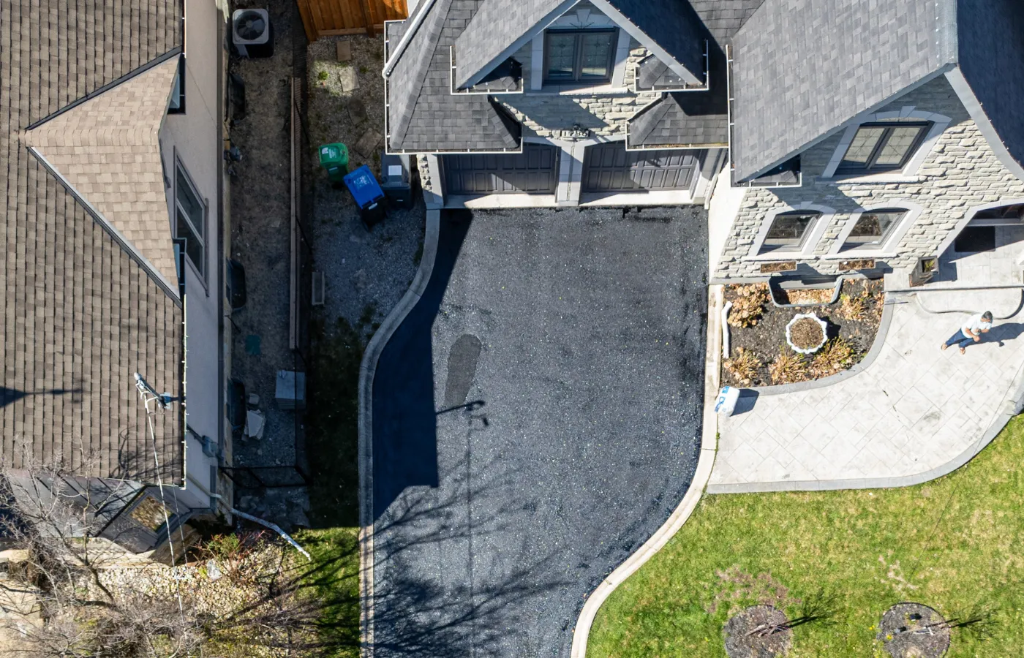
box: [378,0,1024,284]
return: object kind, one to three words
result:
house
